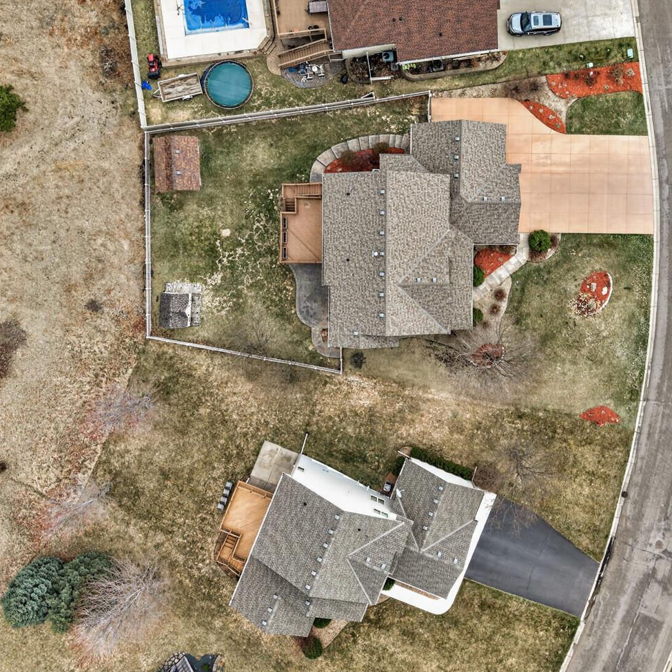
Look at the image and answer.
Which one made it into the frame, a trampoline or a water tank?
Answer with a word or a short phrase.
trampoline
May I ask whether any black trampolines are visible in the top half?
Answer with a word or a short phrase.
No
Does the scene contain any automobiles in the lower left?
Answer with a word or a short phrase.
No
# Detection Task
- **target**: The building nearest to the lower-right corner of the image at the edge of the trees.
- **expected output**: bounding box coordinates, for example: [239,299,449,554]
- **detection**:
[229,434,485,636]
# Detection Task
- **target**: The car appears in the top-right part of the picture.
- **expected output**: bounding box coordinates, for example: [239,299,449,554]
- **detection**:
[507,8,563,37]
